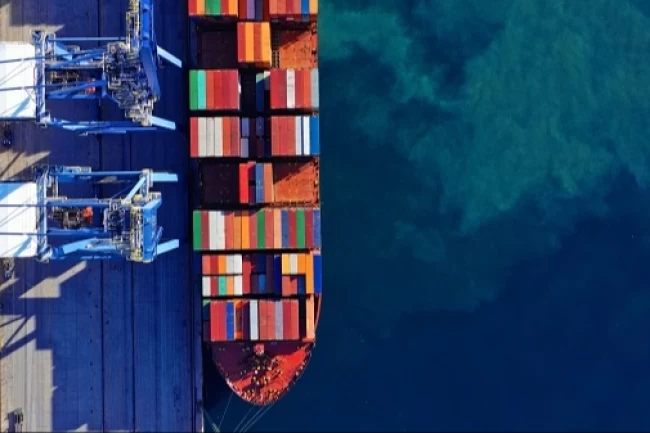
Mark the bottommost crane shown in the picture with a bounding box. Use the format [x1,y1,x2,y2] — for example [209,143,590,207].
[0,164,192,264]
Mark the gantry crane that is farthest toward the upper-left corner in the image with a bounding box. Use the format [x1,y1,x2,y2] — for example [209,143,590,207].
[0,0,190,143]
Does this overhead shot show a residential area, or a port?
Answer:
port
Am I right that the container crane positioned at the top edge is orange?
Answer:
No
